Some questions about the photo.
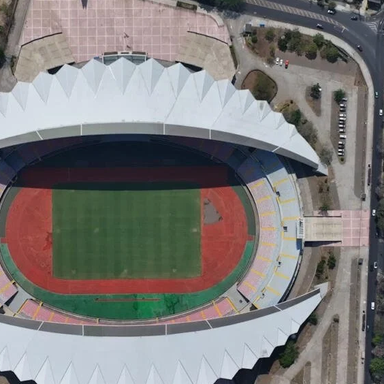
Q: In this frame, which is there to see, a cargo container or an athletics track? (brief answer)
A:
athletics track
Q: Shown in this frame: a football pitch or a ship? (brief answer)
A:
football pitch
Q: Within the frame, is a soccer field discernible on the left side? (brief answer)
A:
Yes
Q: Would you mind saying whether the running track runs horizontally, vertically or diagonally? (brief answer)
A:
horizontally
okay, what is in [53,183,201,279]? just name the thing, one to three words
soccer field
